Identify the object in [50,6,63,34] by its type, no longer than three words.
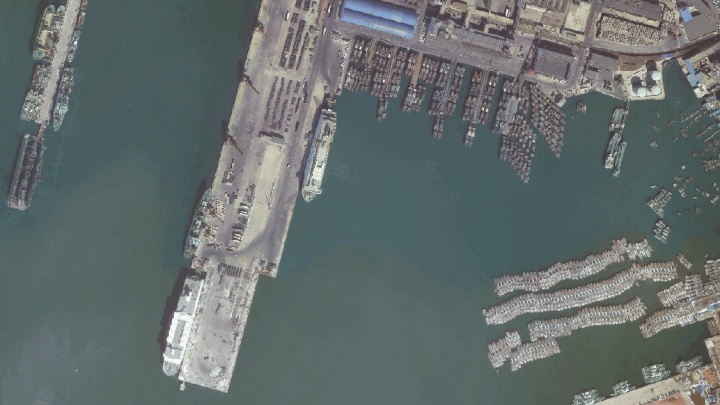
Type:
ship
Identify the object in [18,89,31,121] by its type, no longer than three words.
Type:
ship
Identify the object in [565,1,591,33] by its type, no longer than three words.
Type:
building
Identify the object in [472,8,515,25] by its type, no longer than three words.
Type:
building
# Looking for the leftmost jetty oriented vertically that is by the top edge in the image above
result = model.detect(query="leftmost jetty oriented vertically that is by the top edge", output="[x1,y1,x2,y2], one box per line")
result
[36,0,82,124]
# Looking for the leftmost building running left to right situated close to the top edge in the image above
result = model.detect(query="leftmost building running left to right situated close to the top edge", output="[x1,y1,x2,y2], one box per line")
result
[339,0,419,38]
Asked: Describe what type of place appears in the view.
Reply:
port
